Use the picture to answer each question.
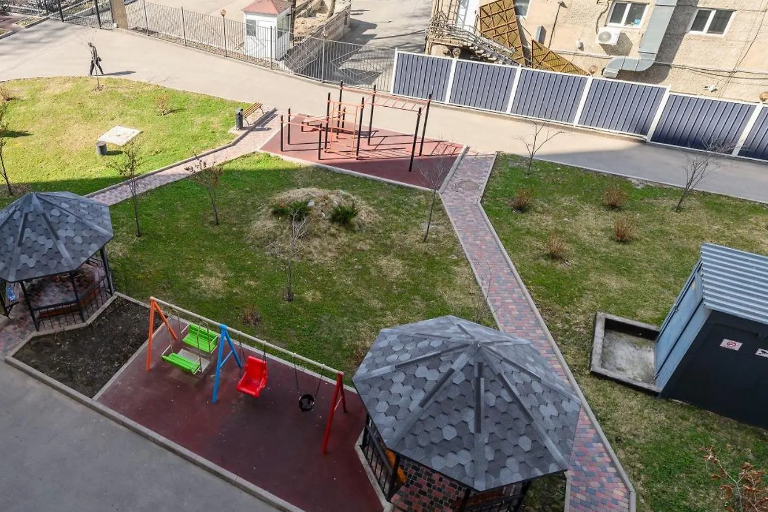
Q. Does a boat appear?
No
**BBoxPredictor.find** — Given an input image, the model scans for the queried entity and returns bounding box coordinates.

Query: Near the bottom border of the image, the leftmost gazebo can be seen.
[352,315,581,512]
